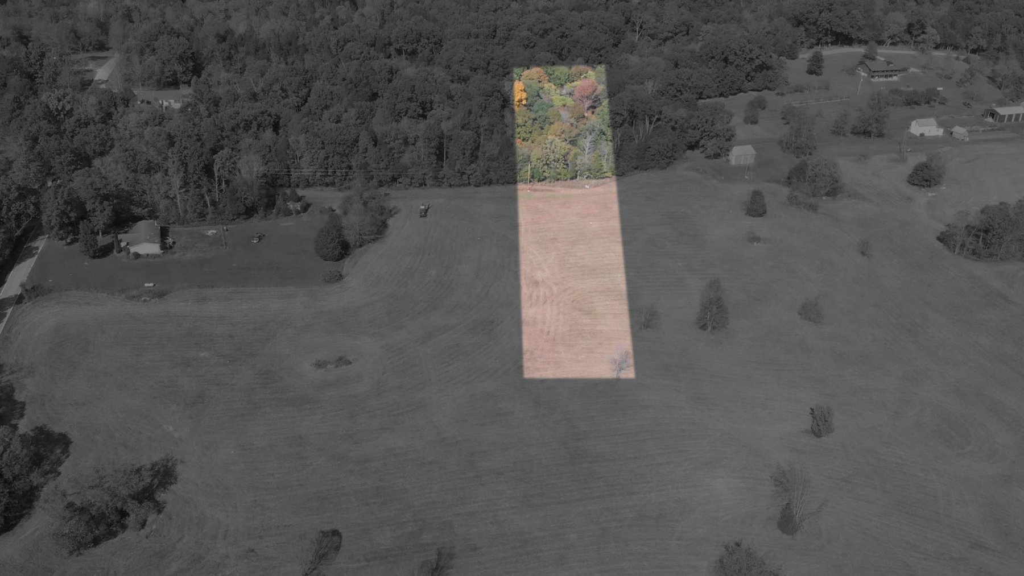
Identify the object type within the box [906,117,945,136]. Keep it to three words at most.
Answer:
house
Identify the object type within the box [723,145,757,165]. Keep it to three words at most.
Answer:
building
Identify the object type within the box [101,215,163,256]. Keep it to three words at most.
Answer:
house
